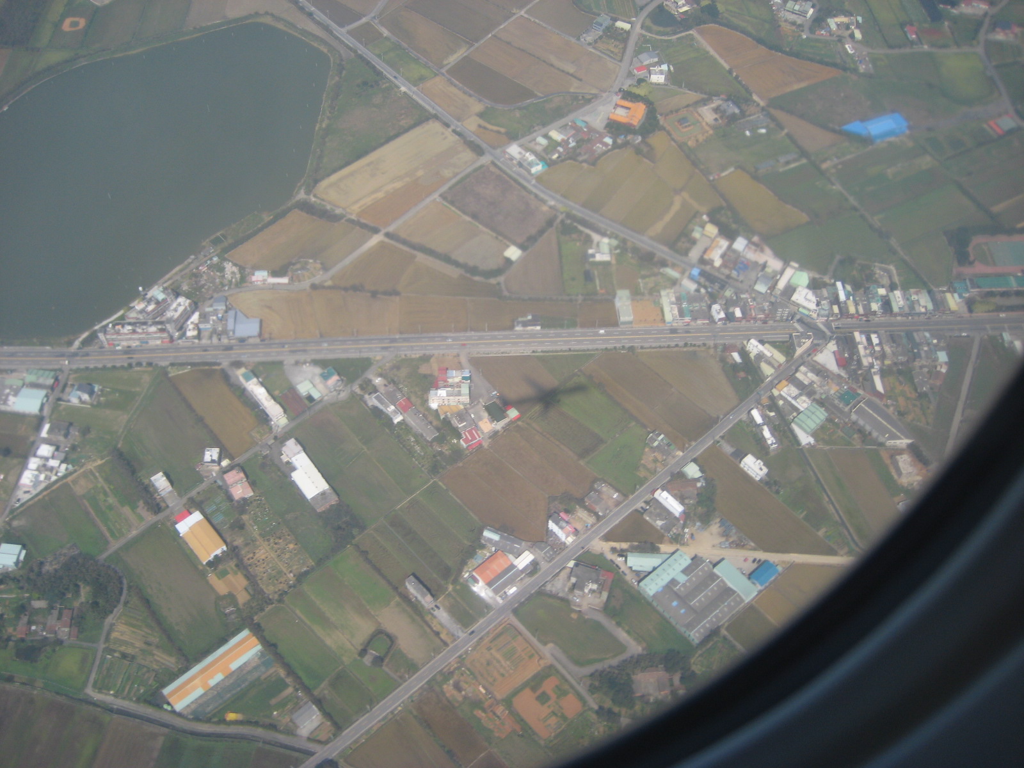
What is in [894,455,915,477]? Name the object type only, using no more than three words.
house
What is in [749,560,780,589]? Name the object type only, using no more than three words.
shed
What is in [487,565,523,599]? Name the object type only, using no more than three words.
shed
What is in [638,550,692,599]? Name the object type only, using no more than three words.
building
